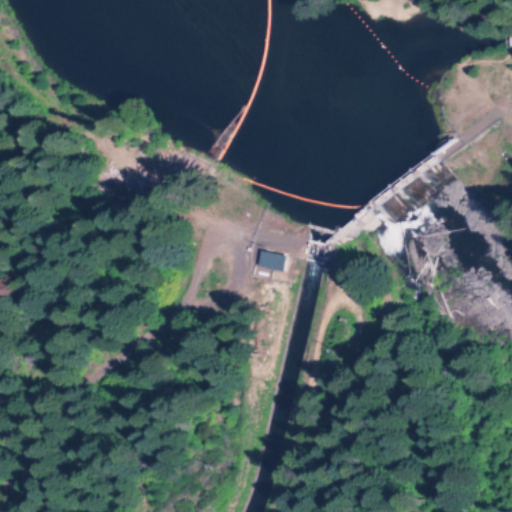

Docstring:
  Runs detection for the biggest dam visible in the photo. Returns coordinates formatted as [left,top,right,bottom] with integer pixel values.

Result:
[320,135,466,250]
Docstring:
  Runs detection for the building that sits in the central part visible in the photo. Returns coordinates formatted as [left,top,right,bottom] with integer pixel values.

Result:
[259,250,285,271]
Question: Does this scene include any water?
Yes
